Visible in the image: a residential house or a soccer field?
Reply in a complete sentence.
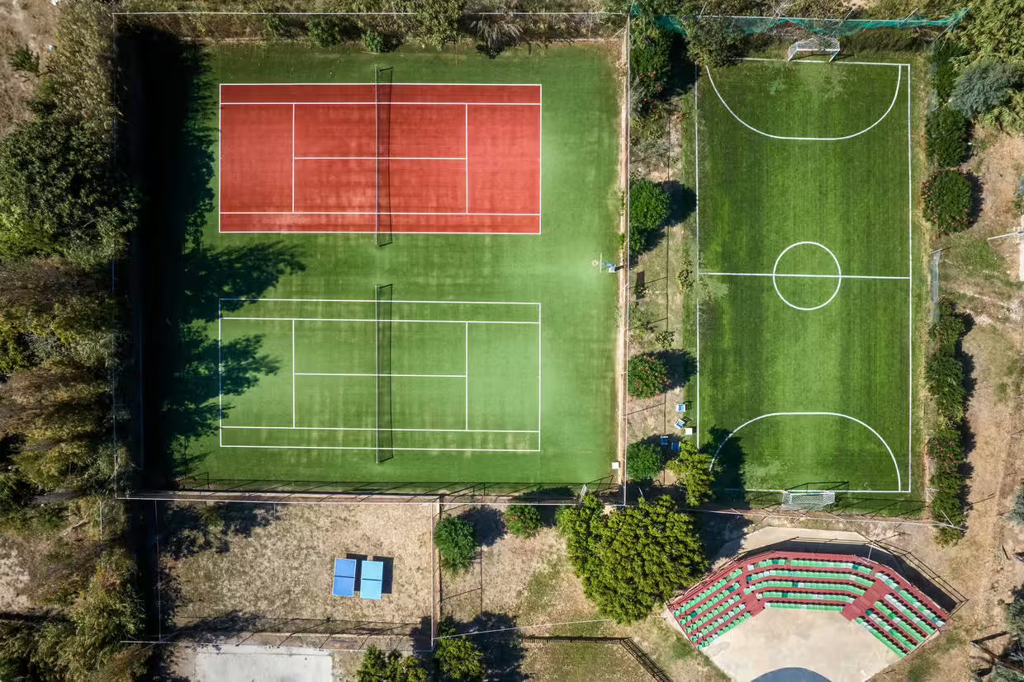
There is a soccer field in the scene.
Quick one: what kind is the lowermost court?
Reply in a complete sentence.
Specifically, the lowermost court is a tennis court.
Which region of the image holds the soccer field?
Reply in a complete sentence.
Look in the right portion of the view to spot the soccer field.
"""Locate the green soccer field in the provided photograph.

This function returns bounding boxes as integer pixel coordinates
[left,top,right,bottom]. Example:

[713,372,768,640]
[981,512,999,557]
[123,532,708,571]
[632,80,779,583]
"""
[682,46,927,518]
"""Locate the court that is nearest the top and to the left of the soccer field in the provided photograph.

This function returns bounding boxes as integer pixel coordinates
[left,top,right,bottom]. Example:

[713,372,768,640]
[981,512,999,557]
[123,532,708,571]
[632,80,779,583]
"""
[219,83,542,233]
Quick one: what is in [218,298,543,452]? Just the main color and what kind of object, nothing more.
green tennis court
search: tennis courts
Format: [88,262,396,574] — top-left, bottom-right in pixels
[218,298,543,452]
[219,83,542,233]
